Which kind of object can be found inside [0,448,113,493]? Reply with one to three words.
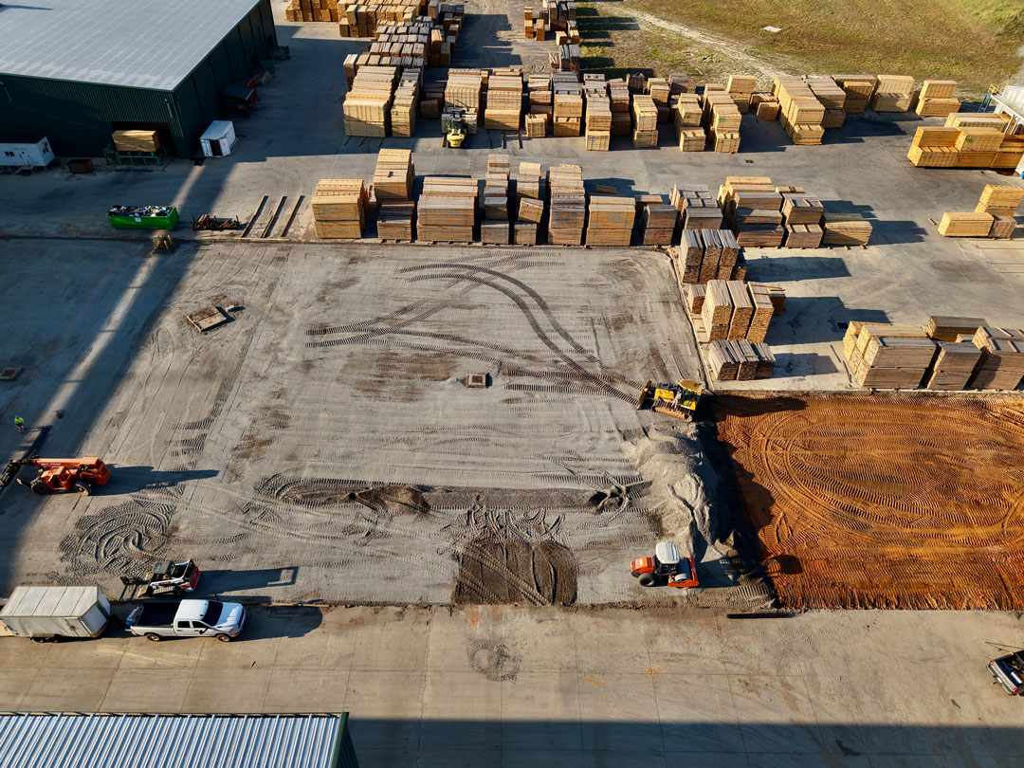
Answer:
work vehicle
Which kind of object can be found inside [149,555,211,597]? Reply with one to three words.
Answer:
work vehicle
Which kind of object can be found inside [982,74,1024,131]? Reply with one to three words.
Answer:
building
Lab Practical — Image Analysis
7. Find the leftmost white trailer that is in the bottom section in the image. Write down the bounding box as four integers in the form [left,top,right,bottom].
[0,577,127,639]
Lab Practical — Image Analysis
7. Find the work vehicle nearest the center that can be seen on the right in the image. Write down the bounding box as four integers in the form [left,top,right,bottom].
[637,378,706,426]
